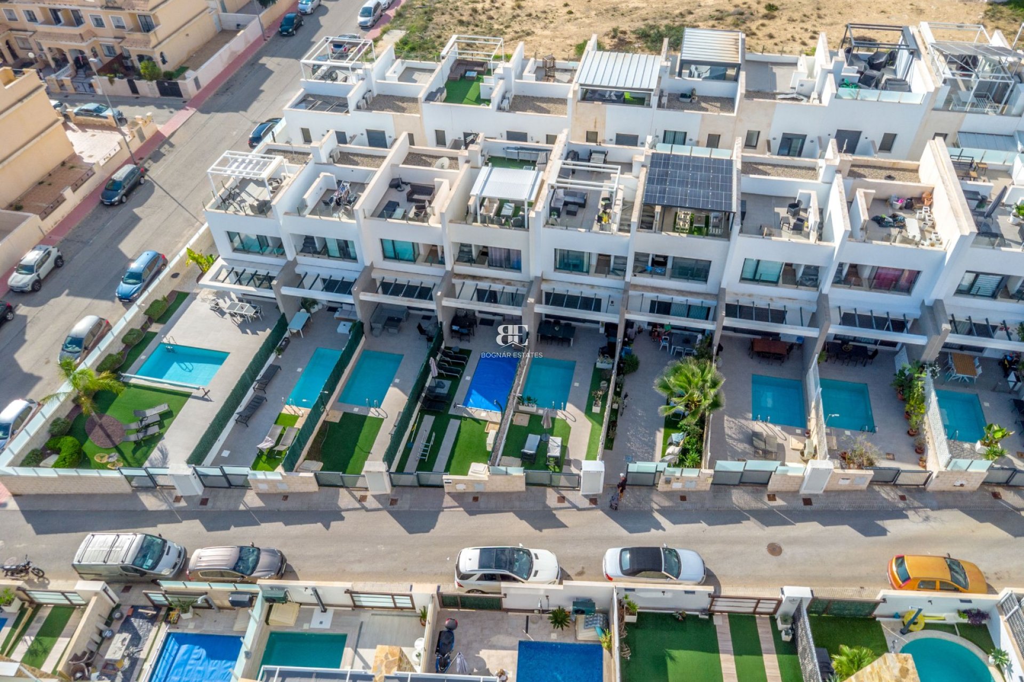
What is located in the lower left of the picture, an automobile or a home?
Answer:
automobile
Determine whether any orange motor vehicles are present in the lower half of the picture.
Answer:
Yes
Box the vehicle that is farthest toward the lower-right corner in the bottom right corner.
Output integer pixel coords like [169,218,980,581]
[884,551,990,591]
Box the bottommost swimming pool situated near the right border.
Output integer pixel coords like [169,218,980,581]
[900,638,992,682]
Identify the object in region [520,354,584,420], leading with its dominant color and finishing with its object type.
blue swimming pool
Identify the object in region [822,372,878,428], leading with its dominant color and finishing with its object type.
blue swimming pool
